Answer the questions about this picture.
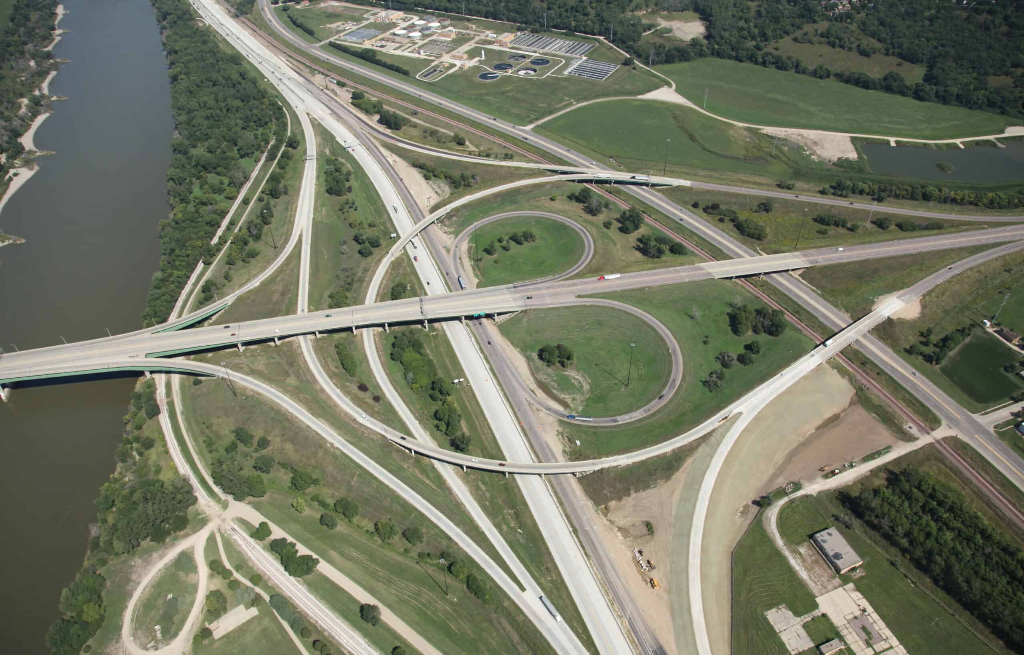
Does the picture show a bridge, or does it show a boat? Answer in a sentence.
There is a bridge in the scene.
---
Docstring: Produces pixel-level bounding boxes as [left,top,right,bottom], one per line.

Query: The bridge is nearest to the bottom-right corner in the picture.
[801,303,896,368]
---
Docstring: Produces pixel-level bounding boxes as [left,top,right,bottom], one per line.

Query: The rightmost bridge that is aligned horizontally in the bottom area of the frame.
[388,431,598,478]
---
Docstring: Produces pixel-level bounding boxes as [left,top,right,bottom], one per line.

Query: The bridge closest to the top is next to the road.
[537,164,675,189]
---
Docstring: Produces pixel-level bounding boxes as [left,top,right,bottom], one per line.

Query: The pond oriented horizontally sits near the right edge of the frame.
[861,138,1024,182]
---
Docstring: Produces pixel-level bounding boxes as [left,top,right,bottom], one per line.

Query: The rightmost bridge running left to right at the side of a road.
[697,251,810,281]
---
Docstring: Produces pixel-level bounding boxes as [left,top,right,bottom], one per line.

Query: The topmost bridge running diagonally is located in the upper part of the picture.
[389,203,454,256]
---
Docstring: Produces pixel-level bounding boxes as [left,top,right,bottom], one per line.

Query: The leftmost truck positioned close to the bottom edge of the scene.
[539,594,562,624]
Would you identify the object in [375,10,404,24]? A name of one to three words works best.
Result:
building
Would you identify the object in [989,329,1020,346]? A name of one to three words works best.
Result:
house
